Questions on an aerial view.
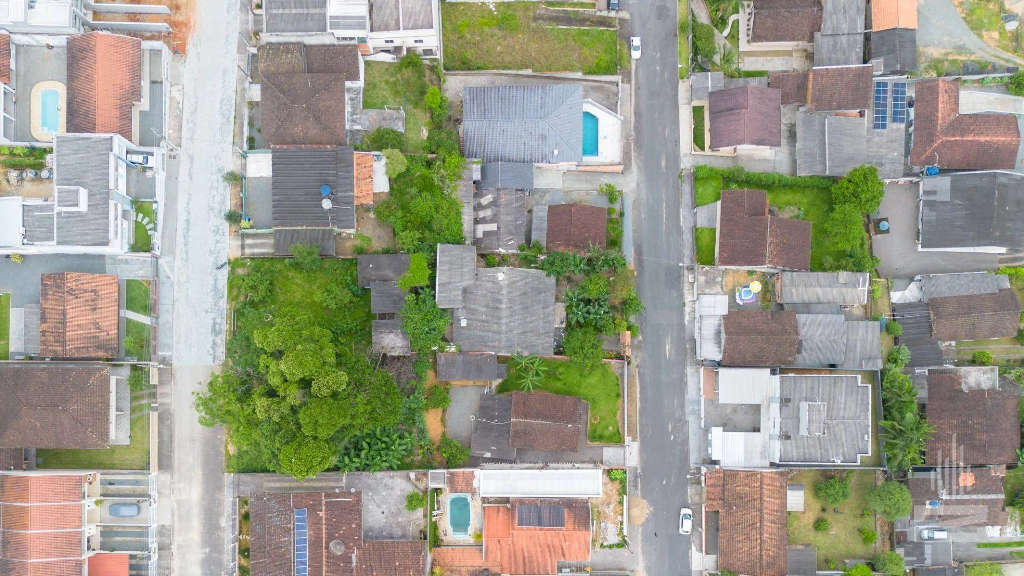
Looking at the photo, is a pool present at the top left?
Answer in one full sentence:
Yes, I can see a pool at the top left.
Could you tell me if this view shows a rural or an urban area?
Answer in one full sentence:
The area shown here is urban.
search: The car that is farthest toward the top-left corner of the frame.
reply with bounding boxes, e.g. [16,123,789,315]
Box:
[132,154,155,166]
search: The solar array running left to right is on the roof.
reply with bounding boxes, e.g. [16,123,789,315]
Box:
[518,506,564,527]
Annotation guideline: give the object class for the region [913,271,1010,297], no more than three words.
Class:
house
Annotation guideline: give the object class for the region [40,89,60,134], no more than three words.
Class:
swimming pool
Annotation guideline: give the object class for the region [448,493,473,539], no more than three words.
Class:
swimming pool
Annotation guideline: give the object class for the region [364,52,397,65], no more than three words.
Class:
shed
